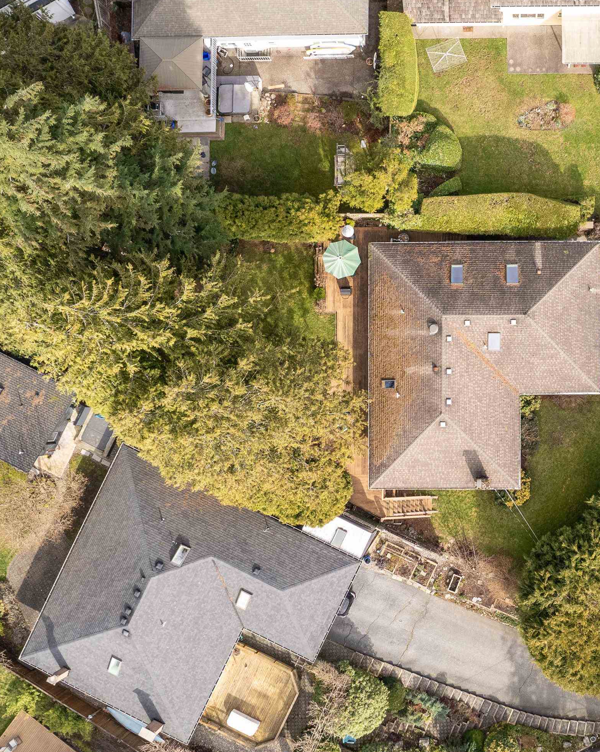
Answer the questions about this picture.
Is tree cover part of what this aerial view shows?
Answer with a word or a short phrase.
Yes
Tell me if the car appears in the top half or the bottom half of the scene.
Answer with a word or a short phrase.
bottom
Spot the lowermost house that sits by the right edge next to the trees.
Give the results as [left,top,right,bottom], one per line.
[368,241,600,490]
